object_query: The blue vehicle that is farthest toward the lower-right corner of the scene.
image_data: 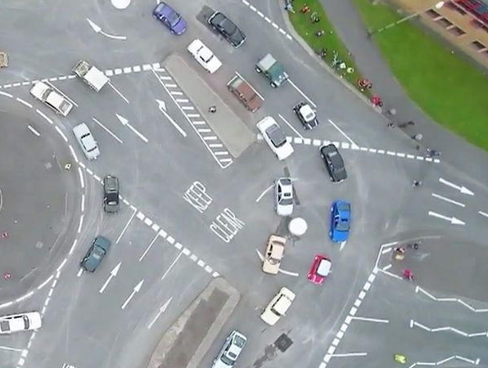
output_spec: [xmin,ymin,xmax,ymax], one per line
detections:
[326,199,351,244]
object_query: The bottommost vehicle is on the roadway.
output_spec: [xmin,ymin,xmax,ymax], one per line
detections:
[209,329,247,368]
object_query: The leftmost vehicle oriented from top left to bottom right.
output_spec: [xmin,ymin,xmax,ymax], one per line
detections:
[29,80,74,117]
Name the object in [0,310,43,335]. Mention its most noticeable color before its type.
white car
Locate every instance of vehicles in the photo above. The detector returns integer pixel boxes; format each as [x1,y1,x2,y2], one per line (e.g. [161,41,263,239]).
[251,49,291,90]
[209,329,247,368]
[151,0,189,38]
[69,57,114,93]
[205,8,247,48]
[318,141,346,185]
[223,71,264,113]
[253,115,293,161]
[73,121,99,161]
[259,233,285,275]
[183,38,223,74]
[101,175,120,214]
[304,252,331,286]
[0,310,43,335]
[79,235,109,275]
[273,176,296,216]
[288,98,320,133]
[29,80,74,117]
[258,285,295,327]
[326,199,351,244]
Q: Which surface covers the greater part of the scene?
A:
paved ground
